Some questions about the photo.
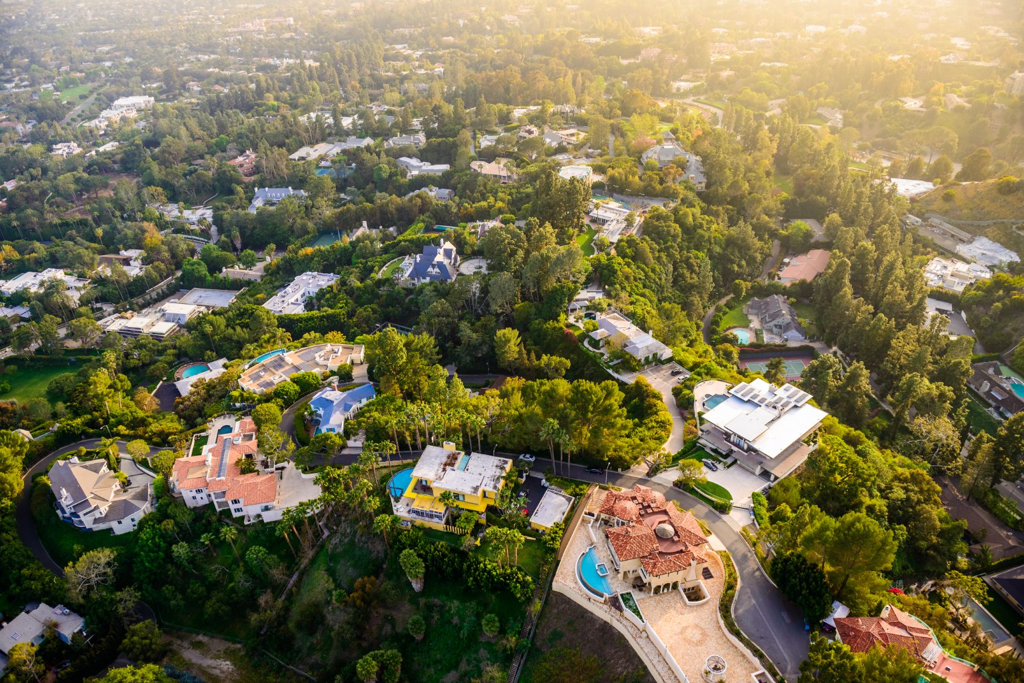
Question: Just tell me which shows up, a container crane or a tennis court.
tennis court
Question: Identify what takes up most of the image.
trees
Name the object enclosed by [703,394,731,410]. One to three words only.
swimming pool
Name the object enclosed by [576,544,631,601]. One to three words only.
swimming pool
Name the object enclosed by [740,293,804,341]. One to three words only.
house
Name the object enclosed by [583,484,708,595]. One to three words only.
house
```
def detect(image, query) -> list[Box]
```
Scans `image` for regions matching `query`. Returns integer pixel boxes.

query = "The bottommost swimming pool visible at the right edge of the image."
[965,607,1011,647]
